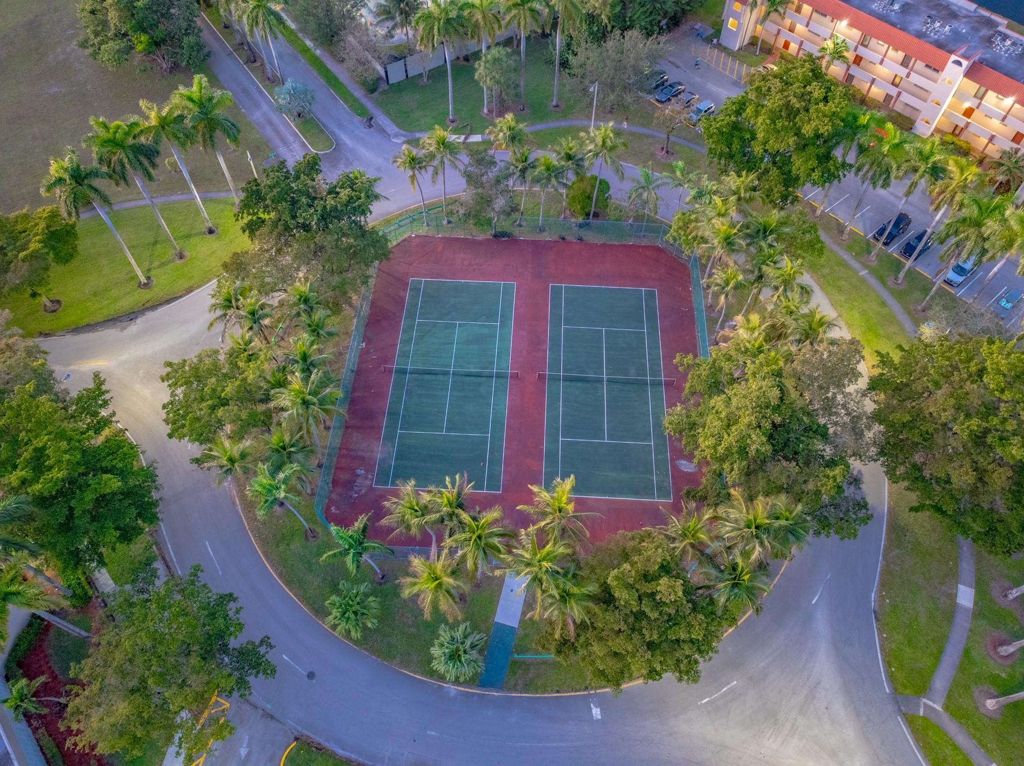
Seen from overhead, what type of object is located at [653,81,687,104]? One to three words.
car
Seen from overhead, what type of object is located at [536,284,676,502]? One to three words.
tennis court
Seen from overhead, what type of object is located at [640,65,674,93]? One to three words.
car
